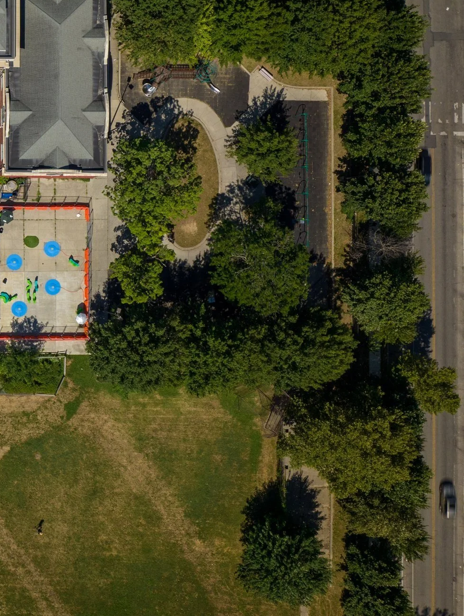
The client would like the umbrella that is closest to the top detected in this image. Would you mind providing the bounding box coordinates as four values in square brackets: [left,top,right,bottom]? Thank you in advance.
[0,211,13,226]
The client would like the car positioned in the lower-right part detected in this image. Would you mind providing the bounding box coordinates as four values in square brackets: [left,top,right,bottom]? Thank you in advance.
[442,486,462,520]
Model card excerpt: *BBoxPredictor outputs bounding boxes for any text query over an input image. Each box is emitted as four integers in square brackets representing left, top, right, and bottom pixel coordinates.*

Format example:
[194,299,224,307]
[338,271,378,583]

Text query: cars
[442,486,462,520]
[419,152,437,187]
